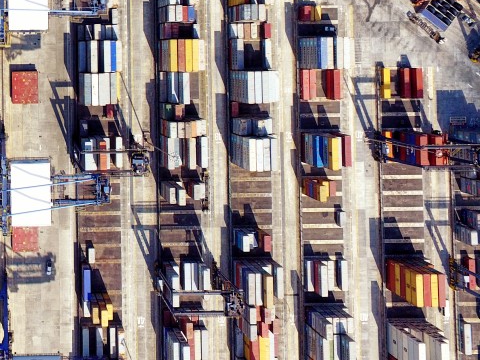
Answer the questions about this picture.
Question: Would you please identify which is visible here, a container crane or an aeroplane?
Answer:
container crane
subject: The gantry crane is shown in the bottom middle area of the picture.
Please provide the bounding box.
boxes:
[154,261,247,321]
